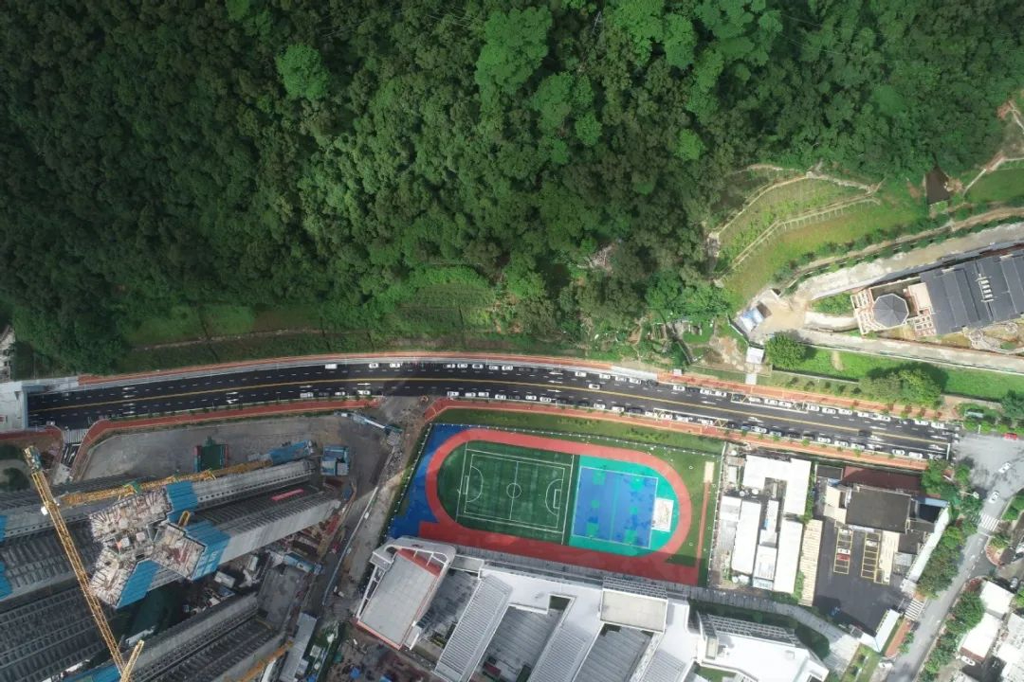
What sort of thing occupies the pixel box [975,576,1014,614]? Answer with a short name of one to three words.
house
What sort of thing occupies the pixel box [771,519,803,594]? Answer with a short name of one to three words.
shed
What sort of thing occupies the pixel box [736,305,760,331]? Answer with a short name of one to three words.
shed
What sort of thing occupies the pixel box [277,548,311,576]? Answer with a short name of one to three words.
building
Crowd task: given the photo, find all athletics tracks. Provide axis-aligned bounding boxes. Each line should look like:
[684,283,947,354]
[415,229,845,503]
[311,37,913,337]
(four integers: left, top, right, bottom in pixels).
[418,429,697,586]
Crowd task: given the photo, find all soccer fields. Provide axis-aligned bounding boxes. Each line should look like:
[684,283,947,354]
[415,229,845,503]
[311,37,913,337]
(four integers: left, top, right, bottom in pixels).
[437,441,579,548]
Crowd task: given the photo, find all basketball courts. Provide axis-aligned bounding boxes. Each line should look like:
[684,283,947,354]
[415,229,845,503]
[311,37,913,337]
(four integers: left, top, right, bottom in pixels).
[571,455,678,558]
